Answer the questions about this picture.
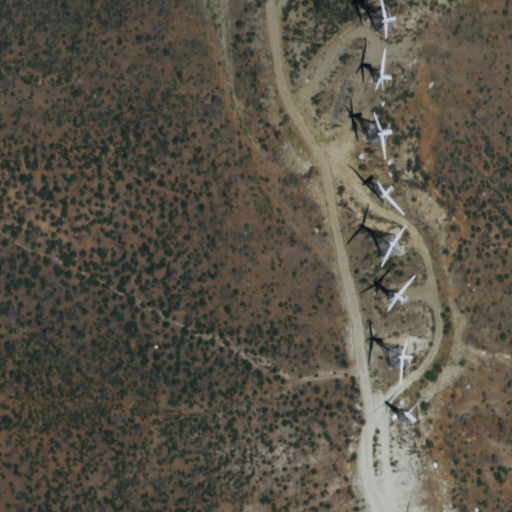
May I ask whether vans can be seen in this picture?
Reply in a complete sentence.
No, I can see no van in this picture.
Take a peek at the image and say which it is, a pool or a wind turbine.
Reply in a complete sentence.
Visible in the photo is a wind turbine.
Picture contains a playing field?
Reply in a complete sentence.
No, there appears to be no playing field in this shot.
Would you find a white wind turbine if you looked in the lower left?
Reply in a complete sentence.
No, I see no white wind turbine in the lower left.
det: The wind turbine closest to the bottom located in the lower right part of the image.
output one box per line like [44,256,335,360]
[388,394,426,428]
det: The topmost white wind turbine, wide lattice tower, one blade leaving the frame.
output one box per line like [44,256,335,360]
[370,0,397,40]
